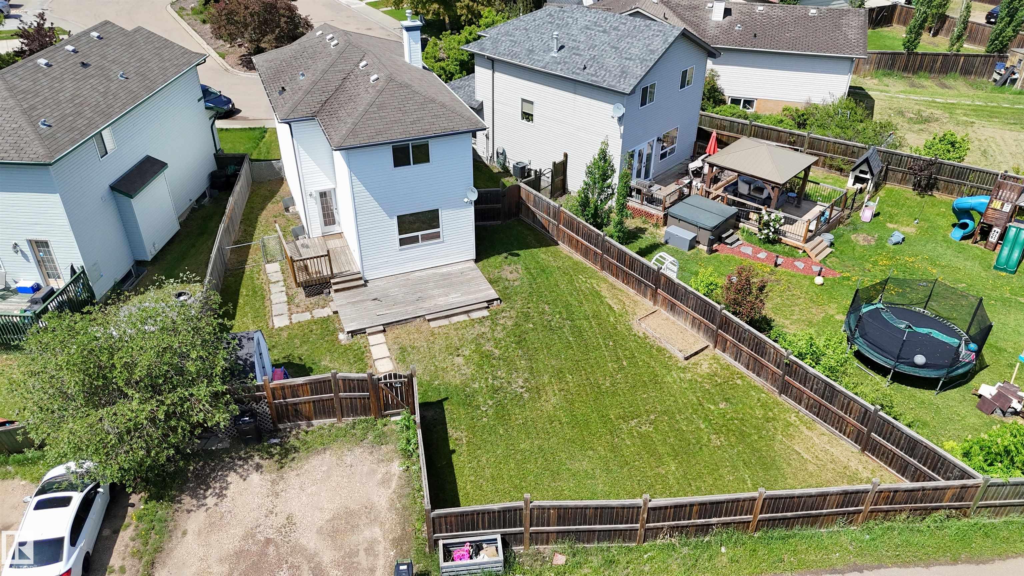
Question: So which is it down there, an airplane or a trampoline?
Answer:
trampoline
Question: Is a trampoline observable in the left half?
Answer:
No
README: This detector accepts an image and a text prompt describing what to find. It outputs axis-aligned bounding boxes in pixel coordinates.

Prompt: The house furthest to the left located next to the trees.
[0,22,228,300]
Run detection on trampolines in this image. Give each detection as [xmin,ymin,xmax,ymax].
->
[842,265,987,395]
